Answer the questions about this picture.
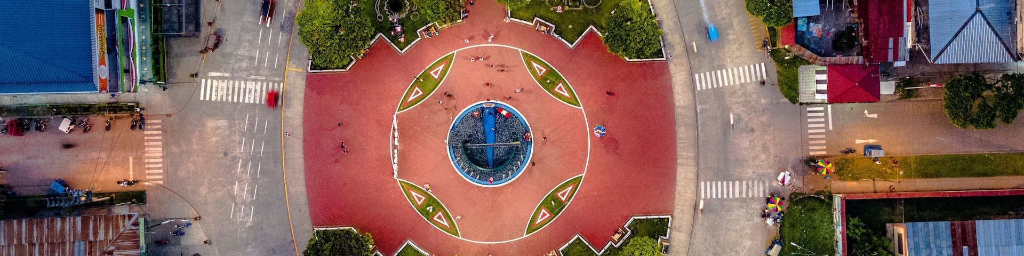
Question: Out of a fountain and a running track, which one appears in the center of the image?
fountain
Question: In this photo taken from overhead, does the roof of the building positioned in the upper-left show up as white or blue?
blue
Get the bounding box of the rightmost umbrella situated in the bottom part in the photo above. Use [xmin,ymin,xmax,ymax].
[816,159,831,175]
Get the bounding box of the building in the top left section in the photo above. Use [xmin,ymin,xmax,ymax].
[0,0,141,96]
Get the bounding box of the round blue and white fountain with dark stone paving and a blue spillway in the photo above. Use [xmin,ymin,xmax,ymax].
[447,101,533,188]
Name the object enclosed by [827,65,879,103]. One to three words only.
building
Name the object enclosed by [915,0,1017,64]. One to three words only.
house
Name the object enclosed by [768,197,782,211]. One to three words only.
umbrella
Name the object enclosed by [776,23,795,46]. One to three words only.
shed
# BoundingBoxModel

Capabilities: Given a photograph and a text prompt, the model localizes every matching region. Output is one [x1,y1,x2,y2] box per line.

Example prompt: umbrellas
[816,159,831,175]
[768,197,782,211]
